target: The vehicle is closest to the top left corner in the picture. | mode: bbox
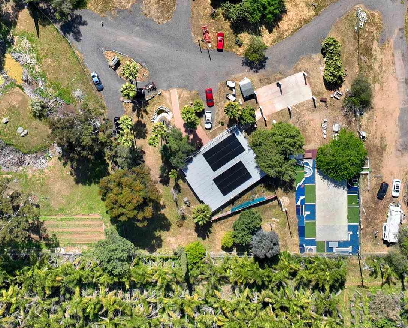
[90,71,105,91]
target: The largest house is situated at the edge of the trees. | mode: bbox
[183,125,267,211]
